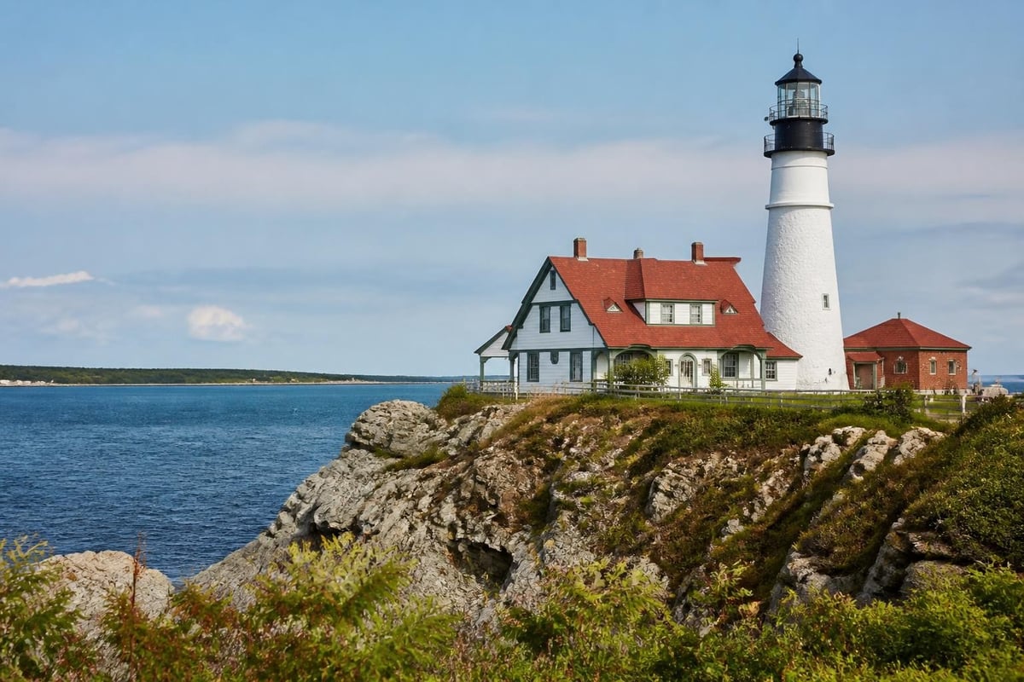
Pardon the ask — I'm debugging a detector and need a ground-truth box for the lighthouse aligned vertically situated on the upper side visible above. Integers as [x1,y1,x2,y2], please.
[760,48,844,390]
